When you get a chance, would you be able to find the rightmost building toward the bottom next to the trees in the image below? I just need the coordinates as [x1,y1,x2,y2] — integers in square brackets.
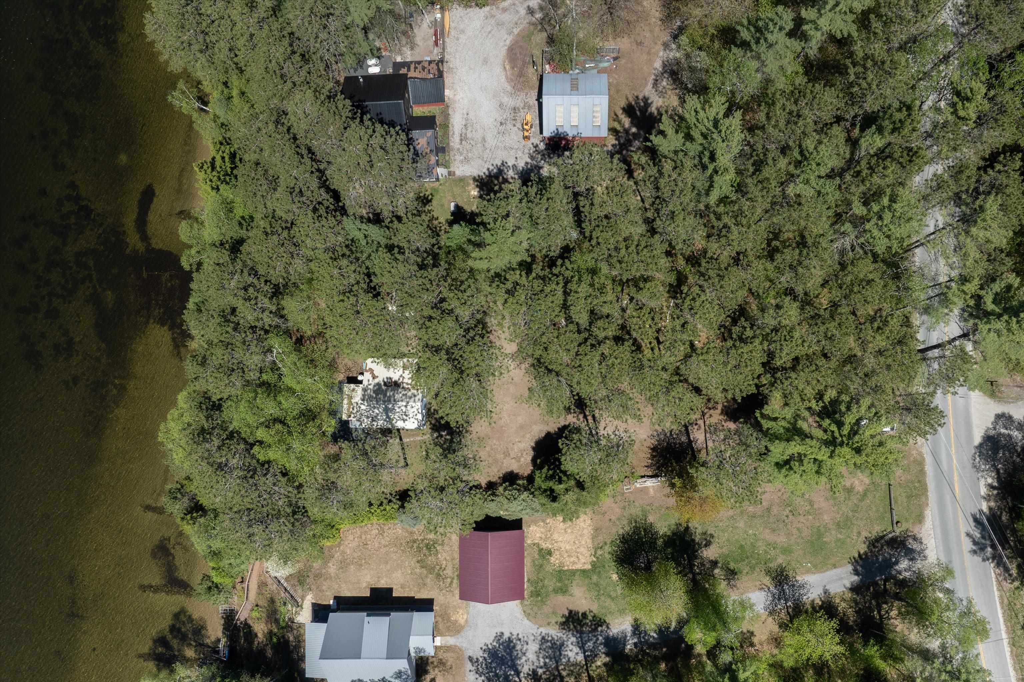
[459,530,525,605]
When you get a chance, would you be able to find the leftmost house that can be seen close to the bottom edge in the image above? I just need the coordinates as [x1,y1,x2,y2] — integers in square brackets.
[305,611,435,682]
